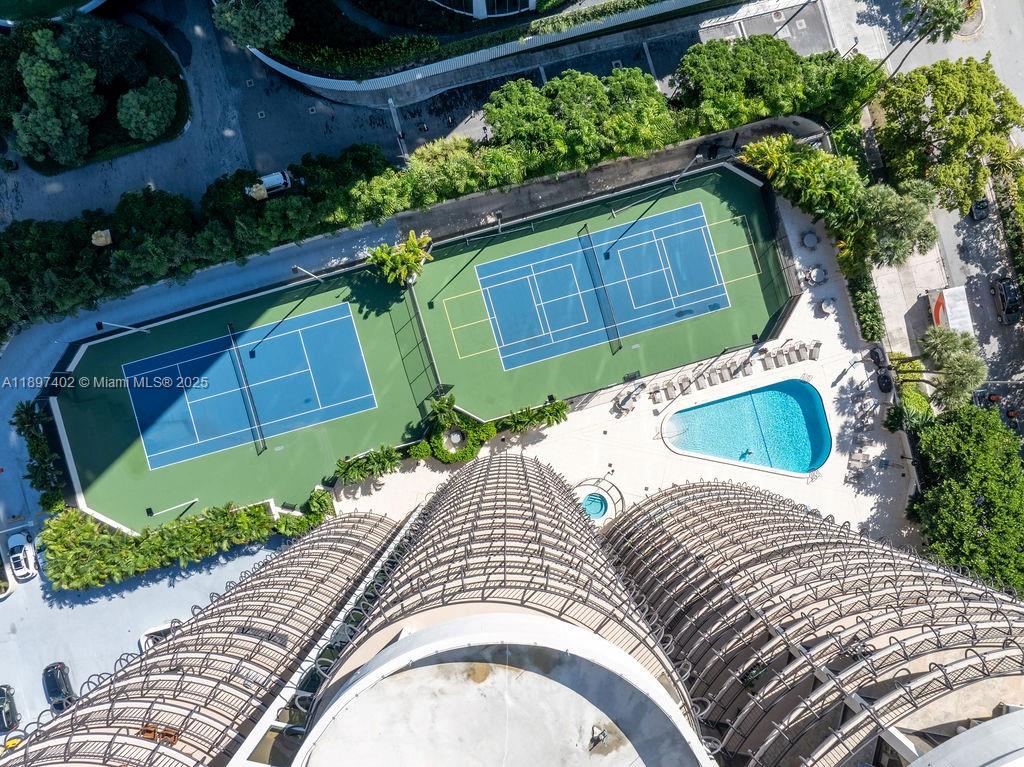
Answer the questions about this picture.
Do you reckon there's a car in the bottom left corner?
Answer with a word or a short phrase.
Yes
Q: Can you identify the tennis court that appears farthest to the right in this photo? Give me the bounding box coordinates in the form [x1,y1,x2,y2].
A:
[412,160,801,421]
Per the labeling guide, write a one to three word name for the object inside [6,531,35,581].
car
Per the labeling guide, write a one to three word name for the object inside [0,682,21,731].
car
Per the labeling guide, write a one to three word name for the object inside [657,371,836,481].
swimming pool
